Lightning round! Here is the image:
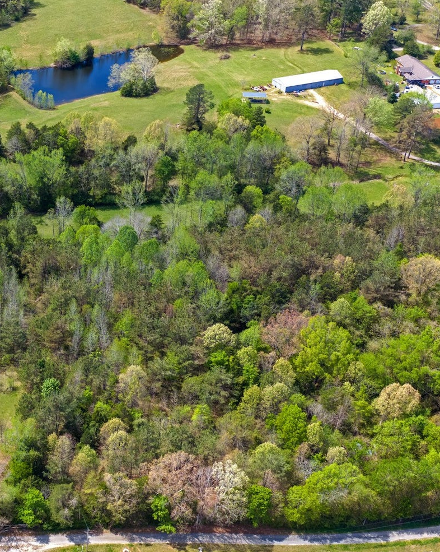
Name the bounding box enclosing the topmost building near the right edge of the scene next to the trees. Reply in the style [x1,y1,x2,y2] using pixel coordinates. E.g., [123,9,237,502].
[391,53,440,85]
